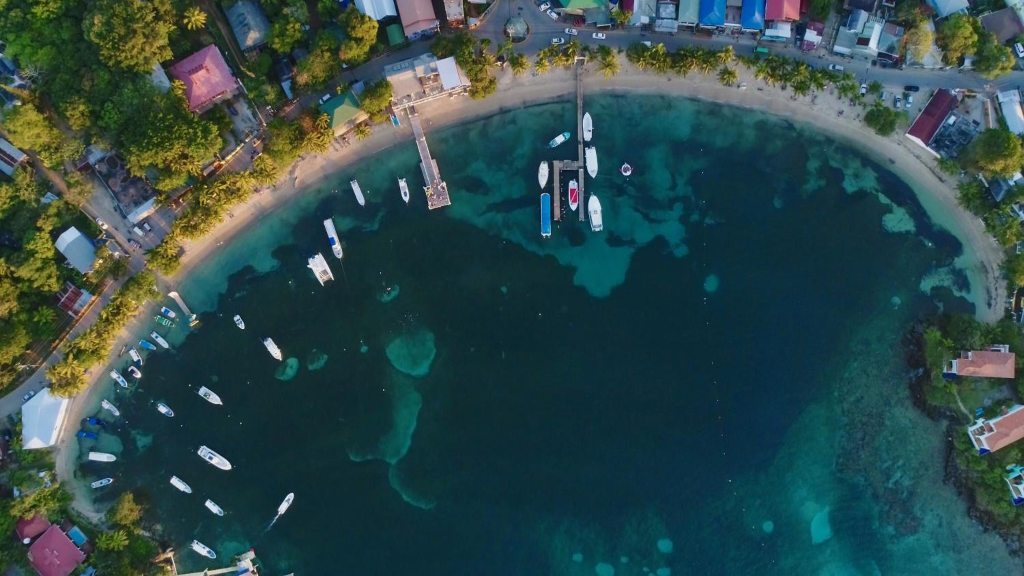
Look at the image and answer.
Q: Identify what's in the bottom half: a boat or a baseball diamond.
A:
boat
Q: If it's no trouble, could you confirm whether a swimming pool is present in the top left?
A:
No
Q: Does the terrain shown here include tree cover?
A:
Yes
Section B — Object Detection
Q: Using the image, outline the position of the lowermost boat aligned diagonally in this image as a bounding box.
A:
[188,538,216,558]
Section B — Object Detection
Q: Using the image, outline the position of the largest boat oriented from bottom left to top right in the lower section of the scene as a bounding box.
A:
[278,492,295,514]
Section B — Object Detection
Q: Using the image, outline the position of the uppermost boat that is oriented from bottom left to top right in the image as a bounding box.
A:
[548,133,570,149]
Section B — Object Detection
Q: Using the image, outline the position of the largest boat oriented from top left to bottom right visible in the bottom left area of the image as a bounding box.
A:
[197,445,232,470]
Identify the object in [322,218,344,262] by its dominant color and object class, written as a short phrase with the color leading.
white boat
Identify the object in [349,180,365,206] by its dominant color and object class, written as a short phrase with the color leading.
white boat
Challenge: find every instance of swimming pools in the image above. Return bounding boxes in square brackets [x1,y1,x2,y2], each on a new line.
[64,518,92,559]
